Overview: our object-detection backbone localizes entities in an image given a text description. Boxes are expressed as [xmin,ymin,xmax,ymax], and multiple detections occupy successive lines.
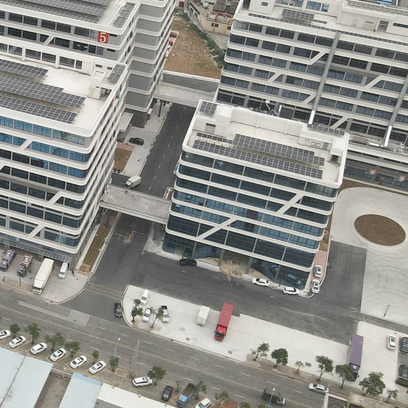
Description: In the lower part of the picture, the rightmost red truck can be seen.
[212,293,237,345]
